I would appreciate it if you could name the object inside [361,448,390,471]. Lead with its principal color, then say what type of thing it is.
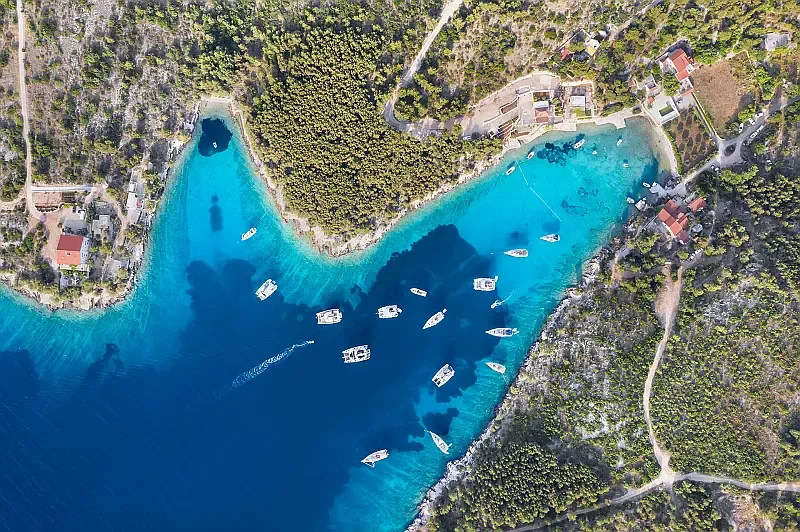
white boat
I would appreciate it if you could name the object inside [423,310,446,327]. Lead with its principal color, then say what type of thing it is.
white boat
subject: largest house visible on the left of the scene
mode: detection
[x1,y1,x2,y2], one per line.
[54,235,89,264]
